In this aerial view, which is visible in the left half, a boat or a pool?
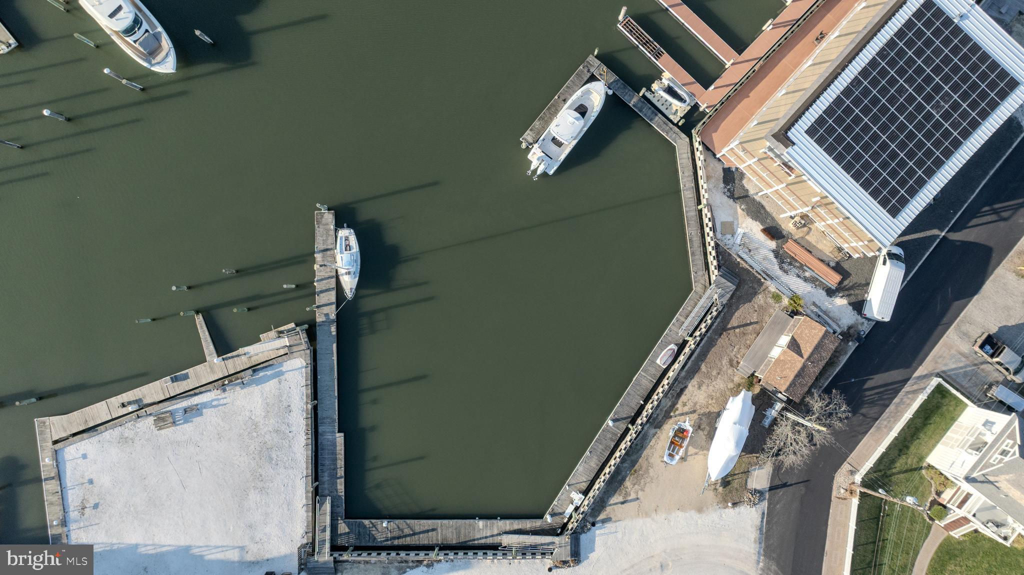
boat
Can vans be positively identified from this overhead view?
Yes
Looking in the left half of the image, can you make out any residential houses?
No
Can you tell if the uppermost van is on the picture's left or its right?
right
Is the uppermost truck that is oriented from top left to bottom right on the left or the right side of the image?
right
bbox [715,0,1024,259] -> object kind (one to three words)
building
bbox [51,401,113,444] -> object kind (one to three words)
pier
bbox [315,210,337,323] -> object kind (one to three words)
pier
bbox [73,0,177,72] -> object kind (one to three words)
boat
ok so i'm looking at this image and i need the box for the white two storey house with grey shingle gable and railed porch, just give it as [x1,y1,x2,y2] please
[922,405,1024,555]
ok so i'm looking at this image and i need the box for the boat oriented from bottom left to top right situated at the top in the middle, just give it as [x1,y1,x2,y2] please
[526,80,605,182]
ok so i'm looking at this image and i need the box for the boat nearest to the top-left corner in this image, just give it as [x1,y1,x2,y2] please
[0,19,22,58]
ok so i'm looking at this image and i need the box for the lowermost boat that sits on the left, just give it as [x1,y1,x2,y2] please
[326,224,361,301]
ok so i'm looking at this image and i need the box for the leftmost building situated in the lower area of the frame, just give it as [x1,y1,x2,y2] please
[736,310,841,403]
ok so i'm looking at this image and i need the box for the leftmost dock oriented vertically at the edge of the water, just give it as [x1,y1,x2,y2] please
[37,418,68,575]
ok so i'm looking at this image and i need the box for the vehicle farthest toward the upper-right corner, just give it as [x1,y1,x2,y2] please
[858,245,907,321]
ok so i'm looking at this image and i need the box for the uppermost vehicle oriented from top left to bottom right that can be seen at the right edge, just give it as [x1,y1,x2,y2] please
[976,332,1024,387]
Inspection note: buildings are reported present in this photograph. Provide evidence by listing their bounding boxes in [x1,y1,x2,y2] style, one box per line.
[922,405,1024,555]
[715,0,1024,259]
[736,310,841,403]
